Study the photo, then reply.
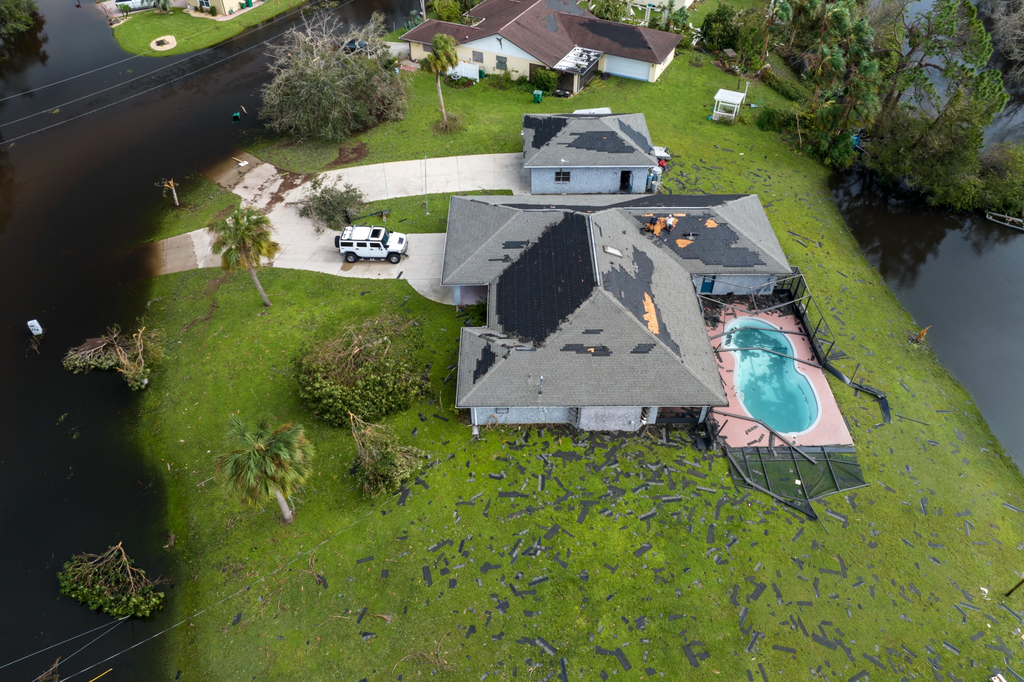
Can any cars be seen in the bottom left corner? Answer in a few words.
No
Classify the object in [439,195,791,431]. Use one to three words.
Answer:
house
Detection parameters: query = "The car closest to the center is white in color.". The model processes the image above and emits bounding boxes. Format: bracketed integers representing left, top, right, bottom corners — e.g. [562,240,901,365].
[333,223,410,264]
